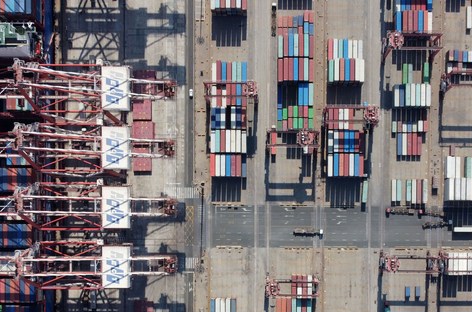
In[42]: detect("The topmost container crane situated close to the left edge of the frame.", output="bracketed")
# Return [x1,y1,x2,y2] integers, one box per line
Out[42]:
[0,57,181,130]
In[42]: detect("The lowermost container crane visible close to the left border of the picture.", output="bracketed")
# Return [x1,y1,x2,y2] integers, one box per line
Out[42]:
[0,236,181,291]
